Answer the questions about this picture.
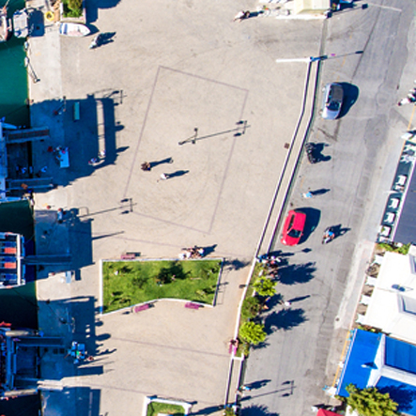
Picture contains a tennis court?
No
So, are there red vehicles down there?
Yes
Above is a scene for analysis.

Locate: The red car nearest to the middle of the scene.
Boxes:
[279,209,306,246]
